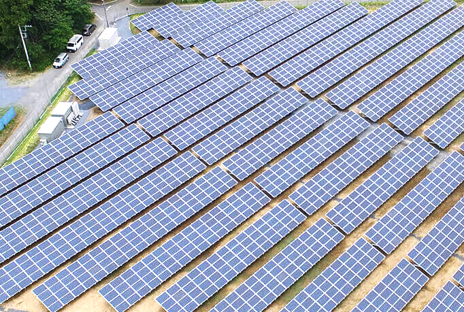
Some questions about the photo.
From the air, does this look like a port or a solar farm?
solar farm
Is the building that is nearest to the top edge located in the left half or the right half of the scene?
left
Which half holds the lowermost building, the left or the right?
left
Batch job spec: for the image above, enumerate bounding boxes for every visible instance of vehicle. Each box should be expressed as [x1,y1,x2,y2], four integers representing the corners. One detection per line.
[66,32,86,51]
[83,23,99,37]
[51,50,71,66]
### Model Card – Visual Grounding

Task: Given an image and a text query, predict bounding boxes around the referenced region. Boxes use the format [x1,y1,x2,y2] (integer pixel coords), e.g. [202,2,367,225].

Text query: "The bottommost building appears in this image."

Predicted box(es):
[38,116,65,147]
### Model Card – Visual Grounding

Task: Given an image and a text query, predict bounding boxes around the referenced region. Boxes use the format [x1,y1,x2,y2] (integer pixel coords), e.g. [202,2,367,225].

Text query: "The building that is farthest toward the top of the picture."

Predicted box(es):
[96,27,126,53]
